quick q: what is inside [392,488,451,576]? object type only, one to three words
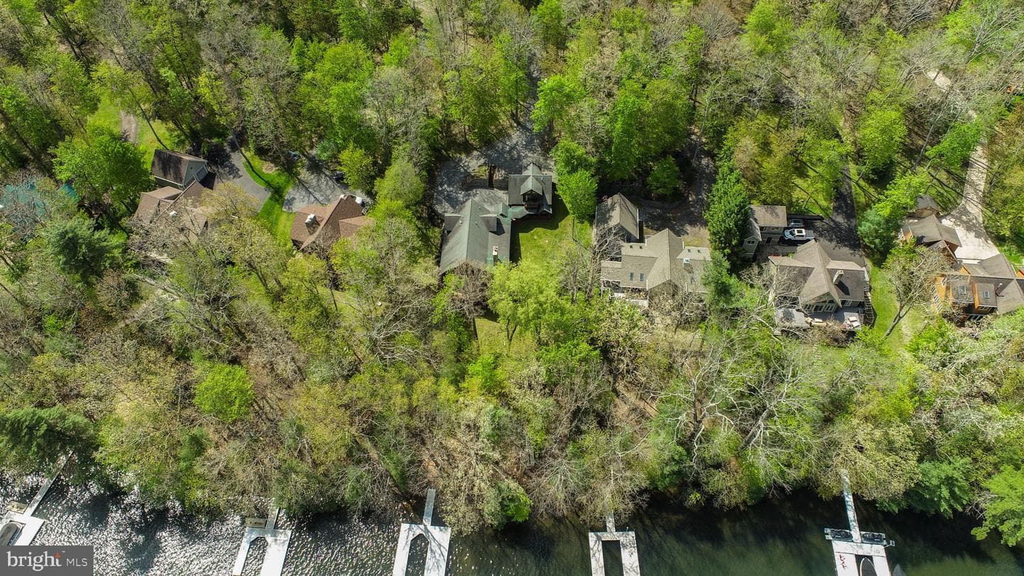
pier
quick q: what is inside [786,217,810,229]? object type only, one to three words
vehicle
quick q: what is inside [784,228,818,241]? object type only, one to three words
vehicle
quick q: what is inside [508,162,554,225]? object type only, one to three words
building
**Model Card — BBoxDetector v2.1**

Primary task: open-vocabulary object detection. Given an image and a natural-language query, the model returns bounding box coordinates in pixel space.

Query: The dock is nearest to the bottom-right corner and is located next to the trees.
[831,482,891,576]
